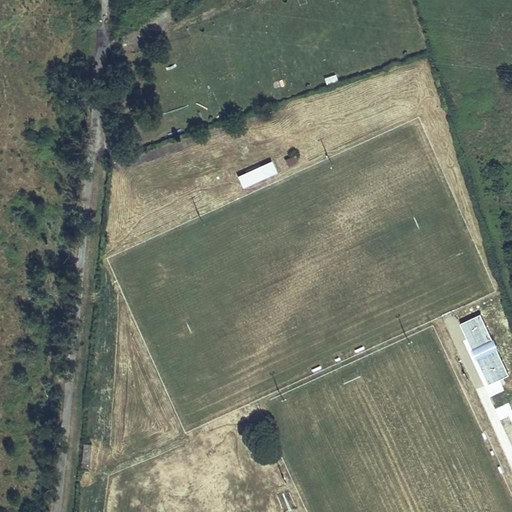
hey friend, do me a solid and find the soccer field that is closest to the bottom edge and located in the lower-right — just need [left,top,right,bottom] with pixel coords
[264,327,512,512]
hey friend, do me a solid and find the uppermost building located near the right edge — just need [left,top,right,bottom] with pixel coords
[459,314,508,397]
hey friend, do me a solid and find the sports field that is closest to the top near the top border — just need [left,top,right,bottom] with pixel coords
[135,0,423,142]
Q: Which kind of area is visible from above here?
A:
sports ground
